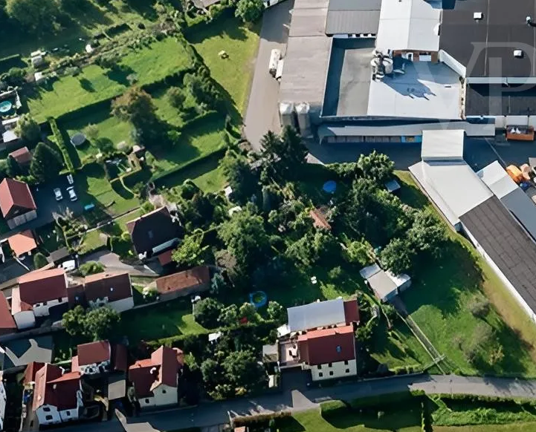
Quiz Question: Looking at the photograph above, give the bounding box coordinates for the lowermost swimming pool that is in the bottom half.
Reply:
[250,292,268,308]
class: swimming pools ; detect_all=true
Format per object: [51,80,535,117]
[250,292,268,308]
[322,180,337,193]
[0,100,12,112]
